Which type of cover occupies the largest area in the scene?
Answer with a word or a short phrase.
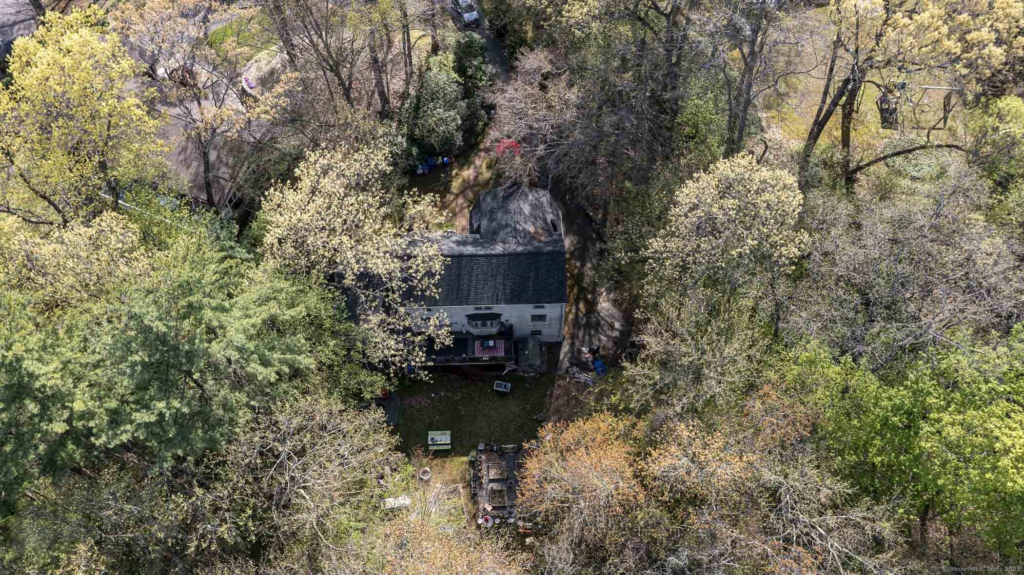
trees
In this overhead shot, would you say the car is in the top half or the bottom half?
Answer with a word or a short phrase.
top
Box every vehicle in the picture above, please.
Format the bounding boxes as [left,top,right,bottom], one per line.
[457,0,482,26]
